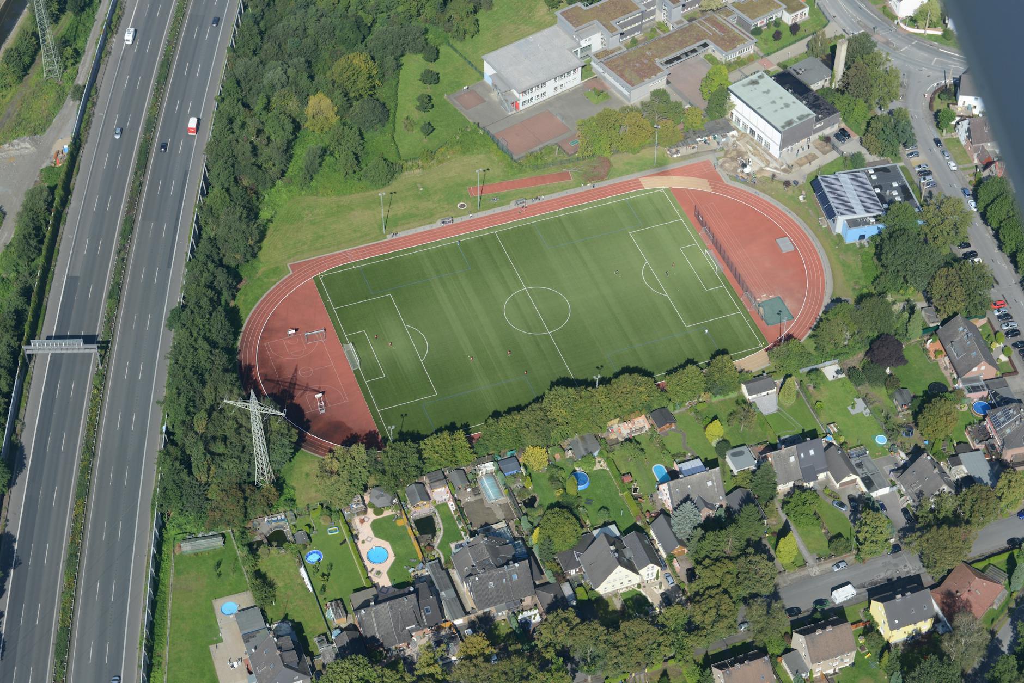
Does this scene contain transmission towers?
Yes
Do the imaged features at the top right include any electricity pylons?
No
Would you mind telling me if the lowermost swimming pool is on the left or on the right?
left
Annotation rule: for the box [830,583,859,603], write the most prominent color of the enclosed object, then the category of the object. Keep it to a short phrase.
white vehicle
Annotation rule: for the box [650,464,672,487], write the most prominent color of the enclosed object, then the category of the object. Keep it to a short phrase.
blue swimming pool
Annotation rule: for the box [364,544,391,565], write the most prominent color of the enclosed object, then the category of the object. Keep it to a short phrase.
blue swimming pool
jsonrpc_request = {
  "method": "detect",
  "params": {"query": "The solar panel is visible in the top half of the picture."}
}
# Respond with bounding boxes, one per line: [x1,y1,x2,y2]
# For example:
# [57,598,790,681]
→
[810,177,837,220]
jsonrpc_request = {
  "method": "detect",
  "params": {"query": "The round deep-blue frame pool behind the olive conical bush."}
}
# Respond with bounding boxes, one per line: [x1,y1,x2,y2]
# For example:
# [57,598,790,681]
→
[569,469,593,490]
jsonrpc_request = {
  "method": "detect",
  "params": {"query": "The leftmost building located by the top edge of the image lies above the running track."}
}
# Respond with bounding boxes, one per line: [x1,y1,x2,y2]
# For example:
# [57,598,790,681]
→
[481,24,600,110]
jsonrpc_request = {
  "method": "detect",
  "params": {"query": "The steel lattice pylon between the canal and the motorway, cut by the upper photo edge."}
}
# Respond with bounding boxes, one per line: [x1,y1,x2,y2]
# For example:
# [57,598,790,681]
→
[30,0,64,87]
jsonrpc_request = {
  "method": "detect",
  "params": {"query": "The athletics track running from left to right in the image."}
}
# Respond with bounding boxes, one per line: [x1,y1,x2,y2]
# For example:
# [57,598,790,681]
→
[239,160,823,464]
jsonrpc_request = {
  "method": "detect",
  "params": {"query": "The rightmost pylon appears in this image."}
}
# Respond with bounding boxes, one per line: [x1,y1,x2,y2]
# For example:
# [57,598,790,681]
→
[221,392,288,494]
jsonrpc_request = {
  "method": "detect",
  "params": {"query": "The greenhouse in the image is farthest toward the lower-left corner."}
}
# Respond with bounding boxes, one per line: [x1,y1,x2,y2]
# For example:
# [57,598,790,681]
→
[181,534,224,554]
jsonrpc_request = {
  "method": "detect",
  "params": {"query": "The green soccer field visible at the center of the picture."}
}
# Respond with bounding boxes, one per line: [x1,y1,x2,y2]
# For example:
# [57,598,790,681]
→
[312,187,769,447]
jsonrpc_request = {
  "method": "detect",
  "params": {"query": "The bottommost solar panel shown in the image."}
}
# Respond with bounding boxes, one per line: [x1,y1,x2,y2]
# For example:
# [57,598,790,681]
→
[678,459,705,476]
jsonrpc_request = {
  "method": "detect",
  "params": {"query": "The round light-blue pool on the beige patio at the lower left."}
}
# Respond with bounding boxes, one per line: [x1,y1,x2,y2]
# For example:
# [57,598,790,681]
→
[217,598,241,618]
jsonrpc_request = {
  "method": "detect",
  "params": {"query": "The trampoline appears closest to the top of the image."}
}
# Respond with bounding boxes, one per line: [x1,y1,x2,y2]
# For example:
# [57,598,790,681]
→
[927,379,949,396]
